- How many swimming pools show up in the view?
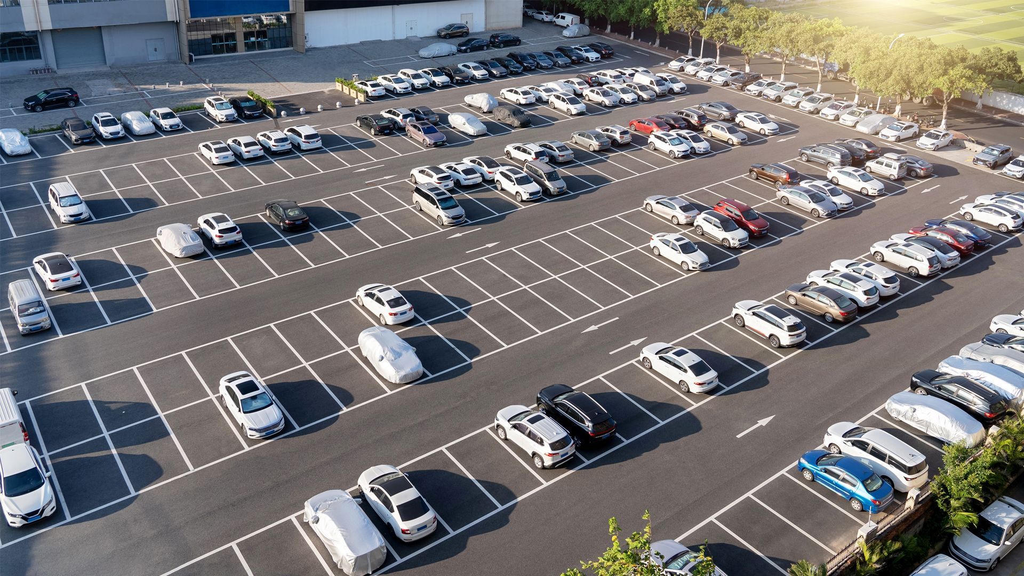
none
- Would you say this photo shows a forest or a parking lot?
parking lot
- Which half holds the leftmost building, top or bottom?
top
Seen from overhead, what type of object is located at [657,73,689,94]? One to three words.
car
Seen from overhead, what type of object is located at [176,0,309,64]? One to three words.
building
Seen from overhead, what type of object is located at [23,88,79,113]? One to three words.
car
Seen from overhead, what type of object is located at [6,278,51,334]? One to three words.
vehicle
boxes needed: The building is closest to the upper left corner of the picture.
[0,0,185,78]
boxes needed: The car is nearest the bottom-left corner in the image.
[0,443,57,527]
